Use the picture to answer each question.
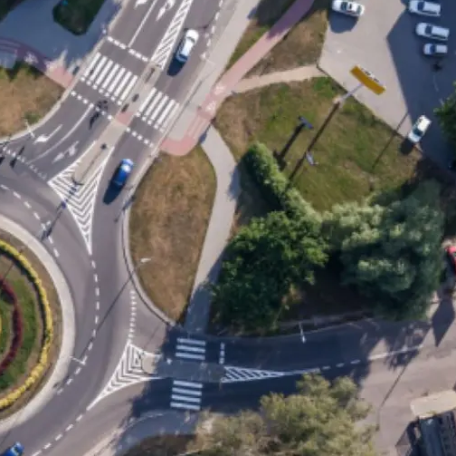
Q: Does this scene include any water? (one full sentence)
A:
No, the scene doesn't show any water.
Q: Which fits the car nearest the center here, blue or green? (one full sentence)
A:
In this view, the car nearest the center is blue.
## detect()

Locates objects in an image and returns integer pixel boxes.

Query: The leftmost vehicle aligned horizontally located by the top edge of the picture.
[332,0,365,19]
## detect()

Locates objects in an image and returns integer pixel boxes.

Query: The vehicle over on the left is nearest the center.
[110,156,132,188]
